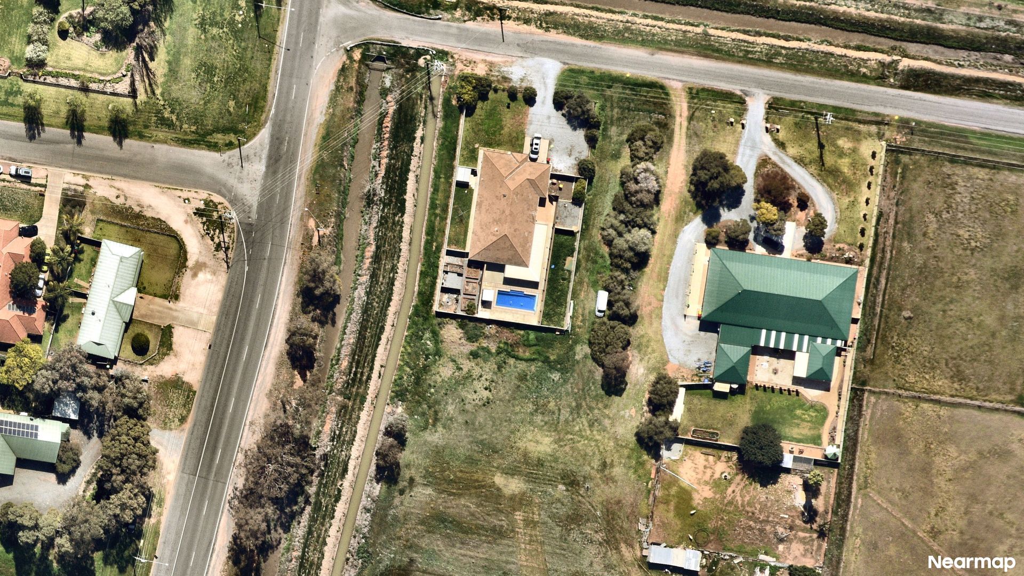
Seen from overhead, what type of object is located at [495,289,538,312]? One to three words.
swimming pool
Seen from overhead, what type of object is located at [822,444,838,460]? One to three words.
gazebo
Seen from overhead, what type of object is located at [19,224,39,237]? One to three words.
vehicle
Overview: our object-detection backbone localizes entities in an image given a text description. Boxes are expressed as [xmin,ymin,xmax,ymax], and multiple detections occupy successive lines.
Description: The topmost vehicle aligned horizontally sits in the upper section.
[9,167,34,180]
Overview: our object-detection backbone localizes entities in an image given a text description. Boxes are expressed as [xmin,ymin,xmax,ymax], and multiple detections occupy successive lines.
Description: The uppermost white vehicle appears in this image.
[527,133,541,159]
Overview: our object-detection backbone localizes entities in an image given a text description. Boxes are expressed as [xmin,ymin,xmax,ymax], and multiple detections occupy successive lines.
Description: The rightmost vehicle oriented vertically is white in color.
[594,291,608,317]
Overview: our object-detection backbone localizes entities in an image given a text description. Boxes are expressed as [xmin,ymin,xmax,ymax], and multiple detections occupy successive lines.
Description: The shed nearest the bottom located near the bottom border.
[646,545,702,571]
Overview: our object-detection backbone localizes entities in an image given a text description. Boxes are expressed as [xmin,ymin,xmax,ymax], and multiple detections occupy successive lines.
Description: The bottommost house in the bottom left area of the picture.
[0,414,69,475]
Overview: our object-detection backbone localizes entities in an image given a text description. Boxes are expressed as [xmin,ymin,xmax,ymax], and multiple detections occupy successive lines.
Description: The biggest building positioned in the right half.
[700,247,858,385]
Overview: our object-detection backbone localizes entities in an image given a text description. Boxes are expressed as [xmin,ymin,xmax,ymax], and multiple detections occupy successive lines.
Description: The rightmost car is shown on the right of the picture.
[761,235,784,253]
